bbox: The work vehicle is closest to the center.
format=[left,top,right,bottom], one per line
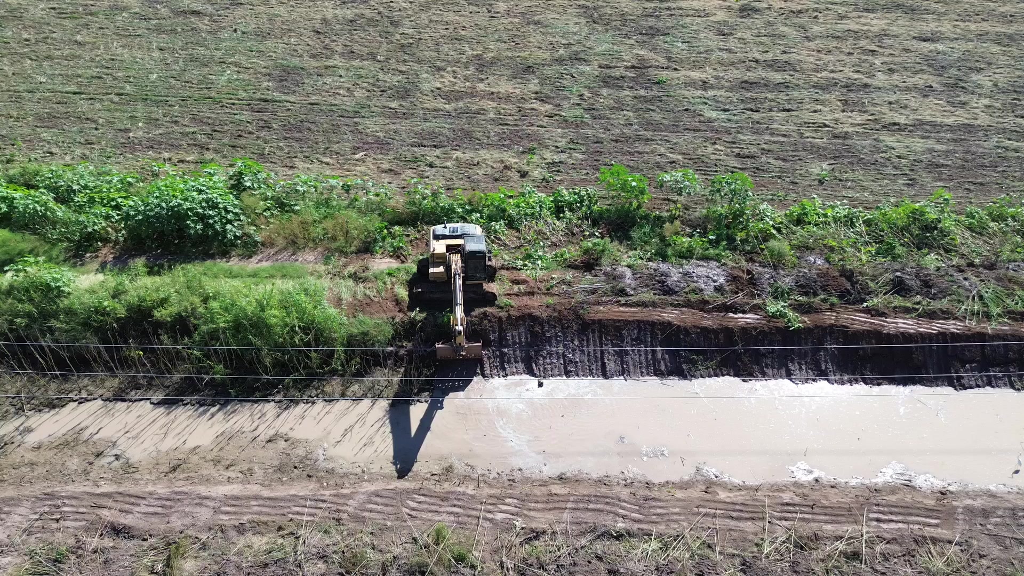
[412,218,499,358]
